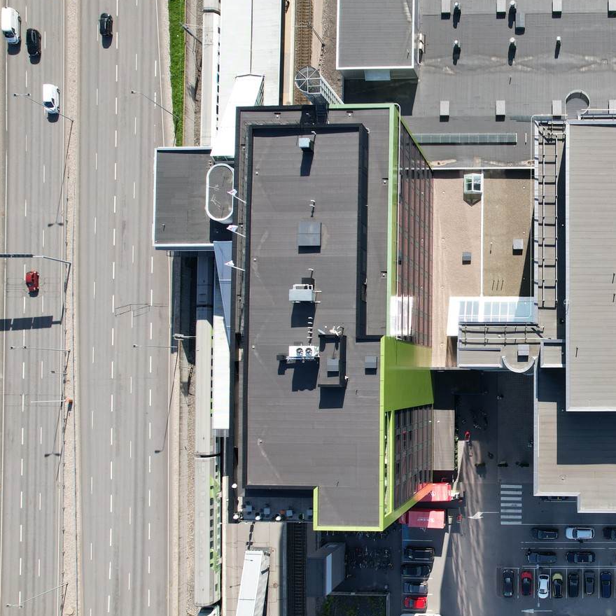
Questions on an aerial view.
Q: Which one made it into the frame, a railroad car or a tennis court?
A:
railroad car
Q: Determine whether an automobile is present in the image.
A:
Yes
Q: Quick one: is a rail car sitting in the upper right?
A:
No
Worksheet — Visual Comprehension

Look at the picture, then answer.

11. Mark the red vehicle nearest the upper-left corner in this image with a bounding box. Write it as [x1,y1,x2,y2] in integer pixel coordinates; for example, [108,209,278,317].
[25,270,41,294]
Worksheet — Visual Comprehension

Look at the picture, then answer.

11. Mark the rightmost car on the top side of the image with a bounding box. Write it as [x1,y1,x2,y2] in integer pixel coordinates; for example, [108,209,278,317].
[99,12,114,39]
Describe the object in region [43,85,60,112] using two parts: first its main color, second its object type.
white car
